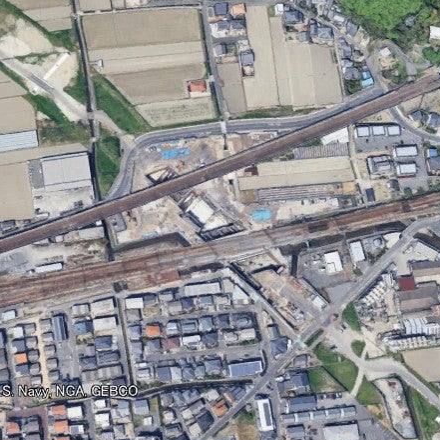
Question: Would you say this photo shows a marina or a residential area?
residential area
